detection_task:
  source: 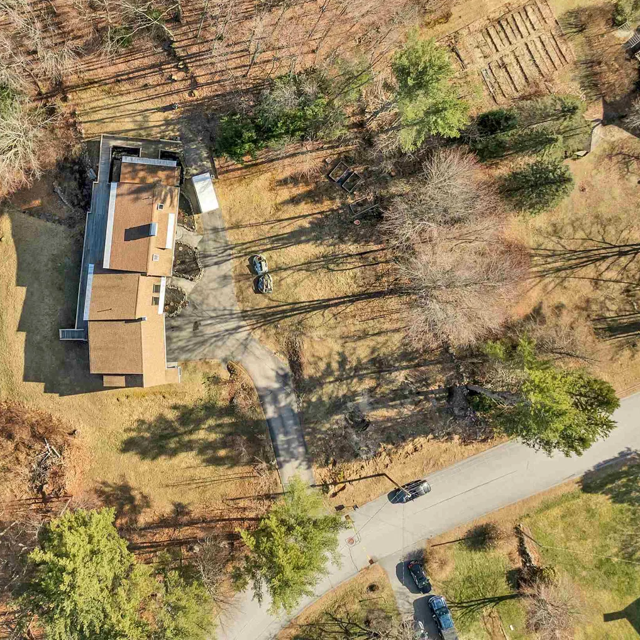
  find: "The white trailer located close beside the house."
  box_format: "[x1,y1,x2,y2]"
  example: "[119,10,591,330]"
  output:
[192,172,222,220]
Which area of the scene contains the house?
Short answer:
left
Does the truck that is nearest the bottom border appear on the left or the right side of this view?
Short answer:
right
